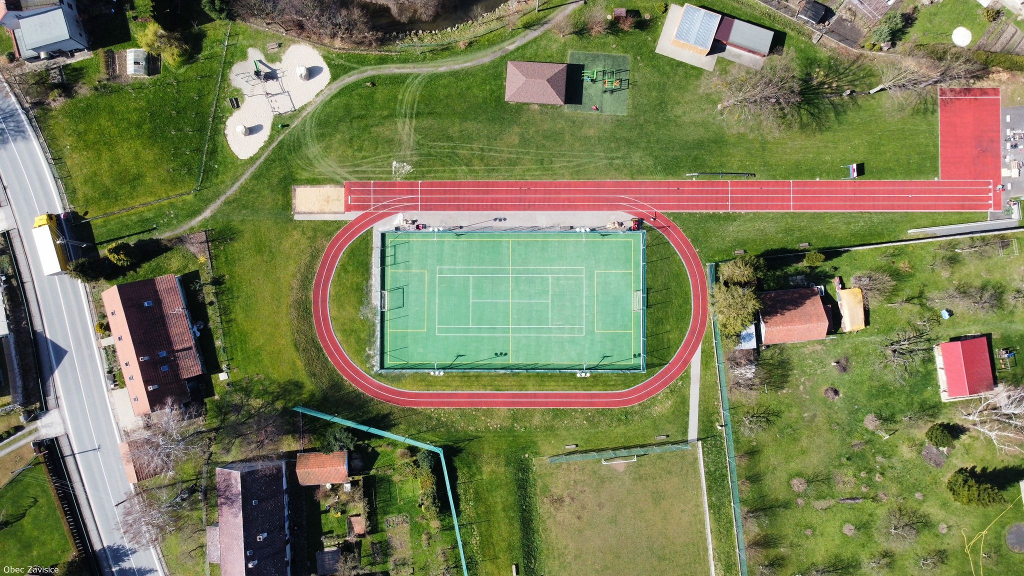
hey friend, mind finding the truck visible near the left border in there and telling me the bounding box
[32,213,73,276]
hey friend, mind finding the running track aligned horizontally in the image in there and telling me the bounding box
[313,87,1002,408]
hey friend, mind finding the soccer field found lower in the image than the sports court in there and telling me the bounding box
[534,443,711,576]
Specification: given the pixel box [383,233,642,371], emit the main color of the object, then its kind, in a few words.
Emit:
green sports court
